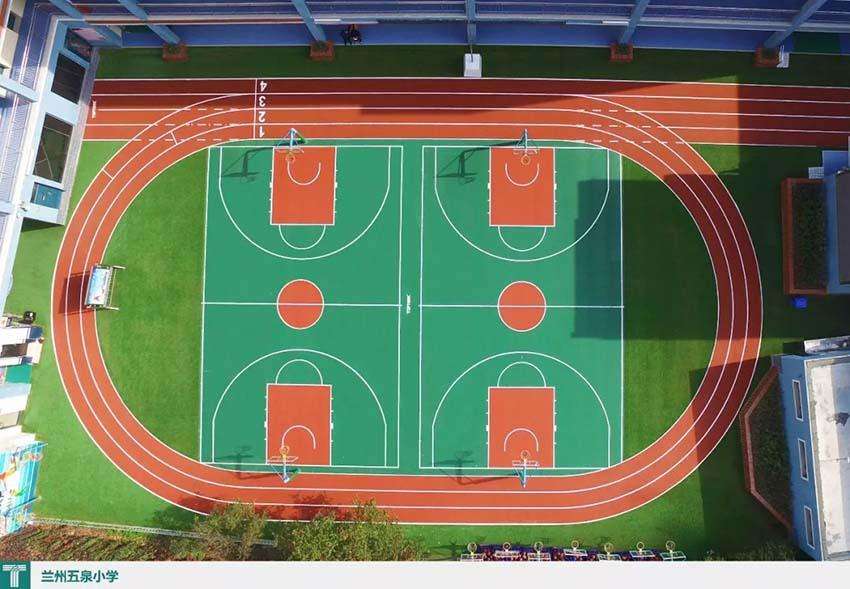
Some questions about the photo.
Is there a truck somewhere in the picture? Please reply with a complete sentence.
No, the scene contains no truck.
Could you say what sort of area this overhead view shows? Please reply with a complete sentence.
What you see here is a sports ground.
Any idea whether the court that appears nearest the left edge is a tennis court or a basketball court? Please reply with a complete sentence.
The court that appears nearest the left edge can be classified as a basketball court.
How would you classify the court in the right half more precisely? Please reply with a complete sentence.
Specifically, the court in the right half is a basketball court.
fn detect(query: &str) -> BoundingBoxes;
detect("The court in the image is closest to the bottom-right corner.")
[408,137,625,479]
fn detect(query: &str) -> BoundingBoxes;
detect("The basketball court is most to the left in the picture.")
[200,138,413,477]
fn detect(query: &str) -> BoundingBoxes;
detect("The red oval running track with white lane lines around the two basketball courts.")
[51,76,850,529]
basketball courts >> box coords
[408,137,625,479]
[200,138,413,477]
